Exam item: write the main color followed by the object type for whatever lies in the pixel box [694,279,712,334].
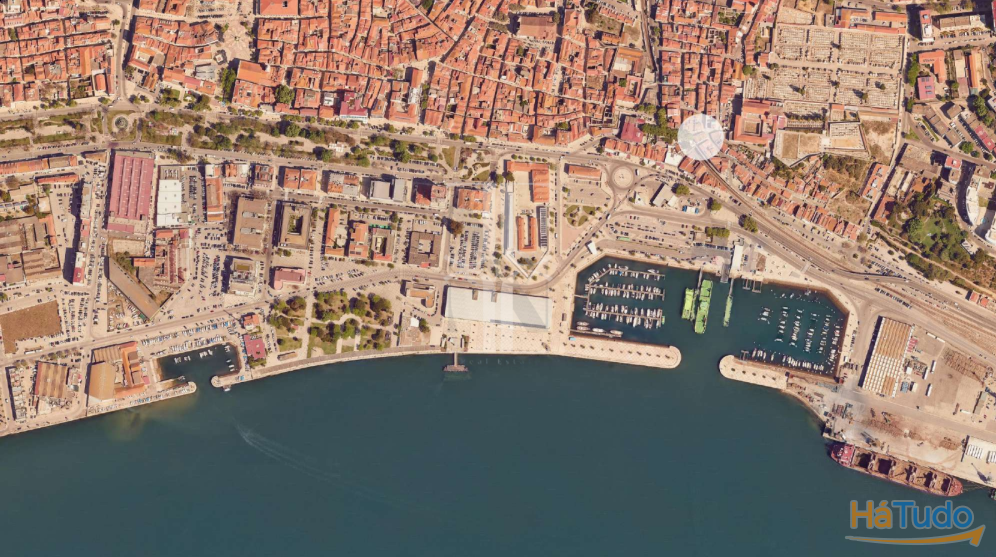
green ship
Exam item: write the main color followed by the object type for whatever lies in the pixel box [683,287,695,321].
green ship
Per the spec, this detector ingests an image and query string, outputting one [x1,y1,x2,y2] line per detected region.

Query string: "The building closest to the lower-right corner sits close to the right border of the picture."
[962,436,996,471]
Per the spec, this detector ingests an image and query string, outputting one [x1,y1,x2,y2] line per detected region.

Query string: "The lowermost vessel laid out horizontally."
[830,447,963,497]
